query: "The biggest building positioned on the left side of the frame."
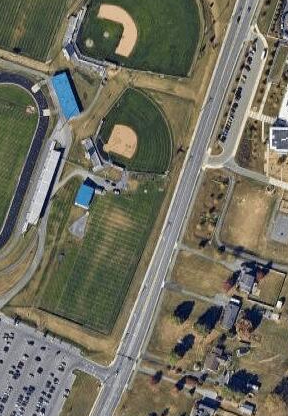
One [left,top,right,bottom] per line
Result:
[51,71,81,120]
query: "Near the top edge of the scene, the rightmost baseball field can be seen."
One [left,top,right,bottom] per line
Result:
[73,0,202,76]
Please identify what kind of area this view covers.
sports ground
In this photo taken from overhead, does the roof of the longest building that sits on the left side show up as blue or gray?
blue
